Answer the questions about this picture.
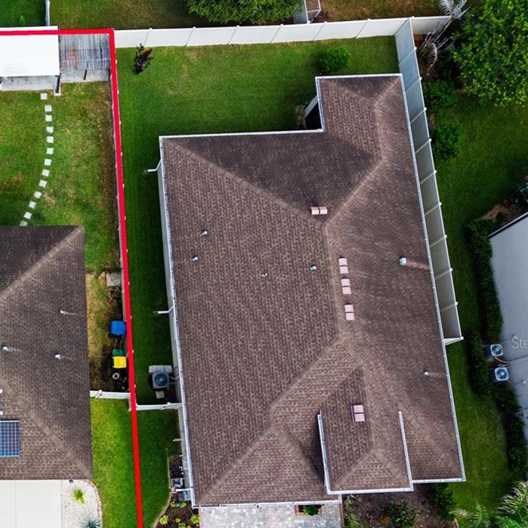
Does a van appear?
No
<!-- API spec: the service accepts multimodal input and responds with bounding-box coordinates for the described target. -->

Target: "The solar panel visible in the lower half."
[0,422,19,456]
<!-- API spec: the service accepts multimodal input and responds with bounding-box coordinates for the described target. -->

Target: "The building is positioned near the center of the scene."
[148,72,468,510]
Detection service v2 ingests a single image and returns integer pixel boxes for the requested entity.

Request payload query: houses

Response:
[0,227,92,478]
[489,213,528,469]
[148,72,468,510]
